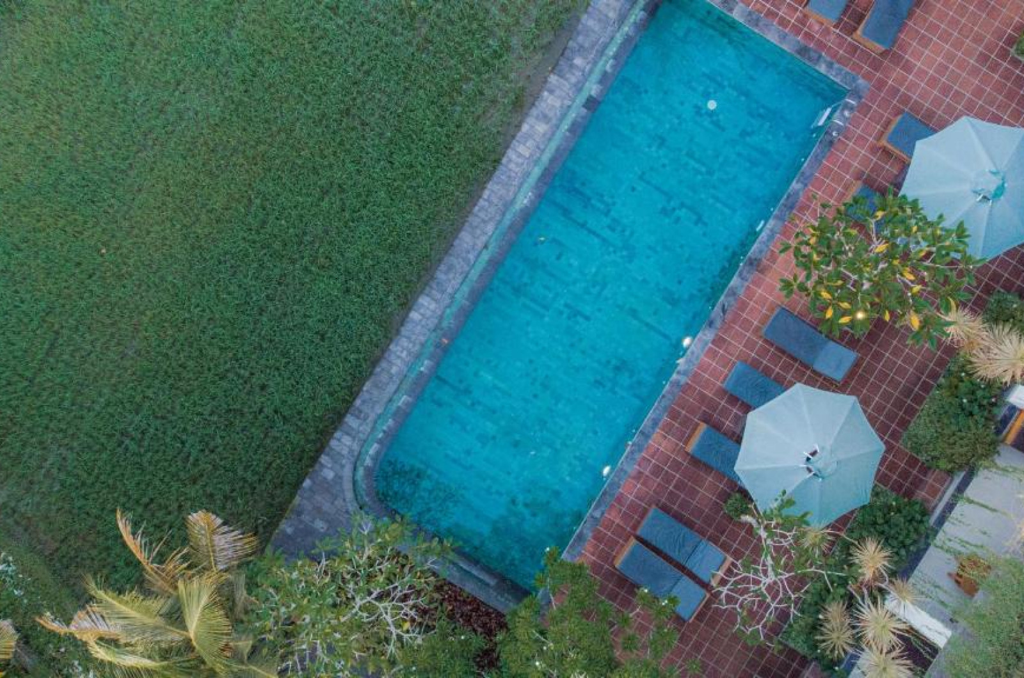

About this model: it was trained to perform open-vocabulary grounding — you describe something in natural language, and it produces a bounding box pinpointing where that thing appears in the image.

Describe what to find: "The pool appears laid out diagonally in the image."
[379,0,848,594]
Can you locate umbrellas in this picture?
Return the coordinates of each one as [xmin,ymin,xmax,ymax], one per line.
[733,382,884,530]
[898,113,1024,264]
